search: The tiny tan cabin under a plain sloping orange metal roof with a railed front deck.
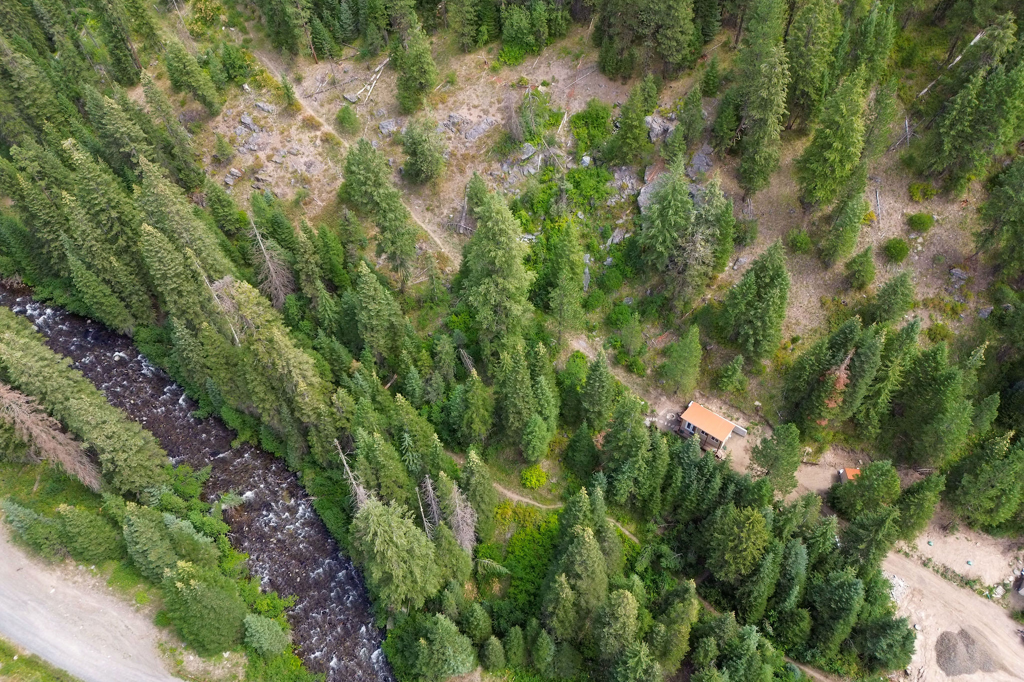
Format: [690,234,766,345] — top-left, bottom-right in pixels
[676,401,737,460]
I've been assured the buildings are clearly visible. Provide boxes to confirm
[676,401,737,460]
[841,466,871,491]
